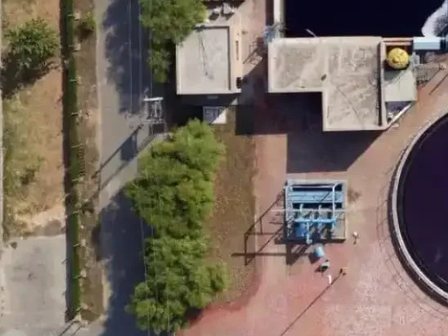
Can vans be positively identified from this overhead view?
No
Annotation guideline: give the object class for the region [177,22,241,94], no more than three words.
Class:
shed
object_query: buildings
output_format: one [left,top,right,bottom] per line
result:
[269,37,389,131]
[177,22,241,94]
